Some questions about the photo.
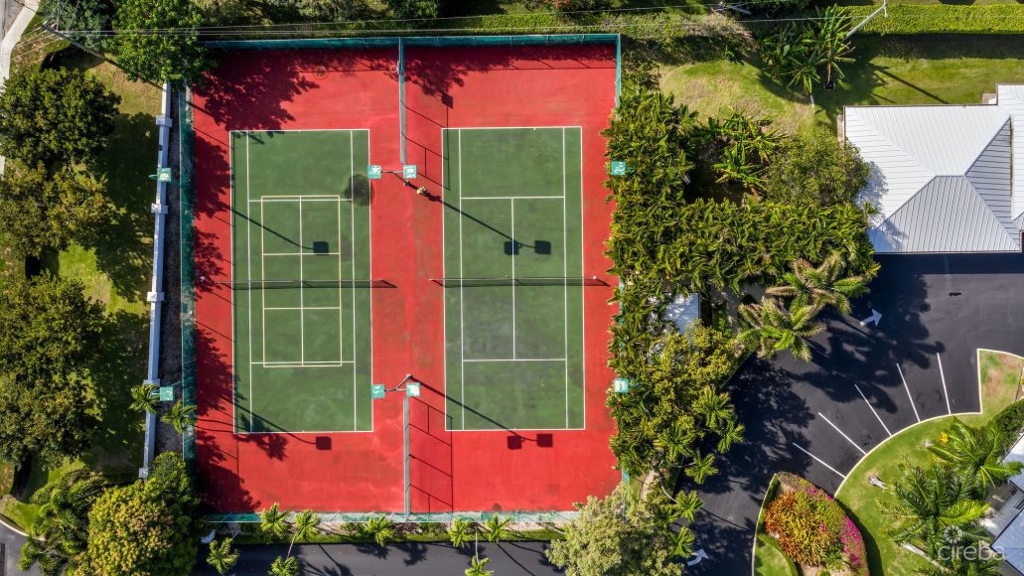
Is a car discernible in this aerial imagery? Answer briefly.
No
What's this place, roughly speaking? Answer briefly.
sports ground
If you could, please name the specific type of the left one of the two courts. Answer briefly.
tennis court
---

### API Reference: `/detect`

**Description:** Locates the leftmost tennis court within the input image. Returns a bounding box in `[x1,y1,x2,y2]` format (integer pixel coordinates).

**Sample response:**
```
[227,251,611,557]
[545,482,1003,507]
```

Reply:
[193,47,415,513]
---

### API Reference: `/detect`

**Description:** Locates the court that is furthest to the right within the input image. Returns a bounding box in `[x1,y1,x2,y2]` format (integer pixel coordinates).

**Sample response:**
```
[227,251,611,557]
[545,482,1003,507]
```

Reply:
[412,44,623,513]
